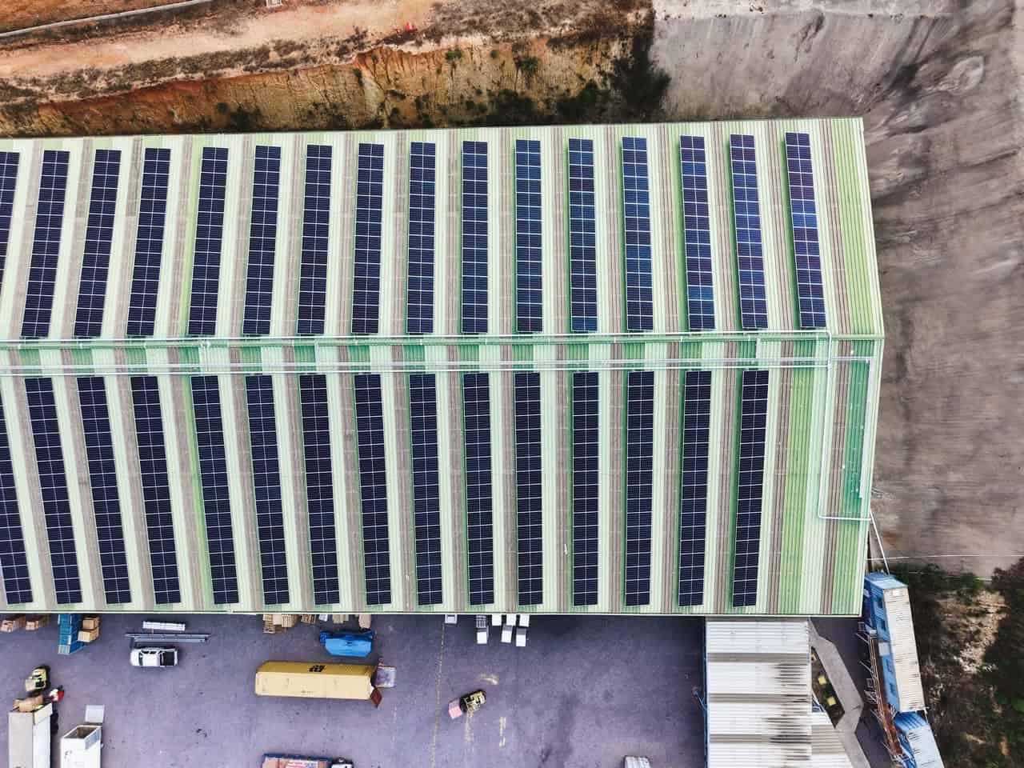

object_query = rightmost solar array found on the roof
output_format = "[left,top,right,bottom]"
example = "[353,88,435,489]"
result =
[784,133,827,330]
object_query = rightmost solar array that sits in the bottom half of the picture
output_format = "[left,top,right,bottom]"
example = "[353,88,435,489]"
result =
[731,369,770,606]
